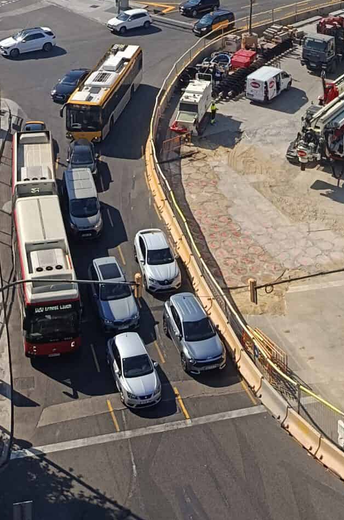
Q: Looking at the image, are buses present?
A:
Yes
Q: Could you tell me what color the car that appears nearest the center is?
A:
white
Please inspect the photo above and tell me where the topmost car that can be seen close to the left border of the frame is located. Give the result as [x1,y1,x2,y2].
[1,28,55,57]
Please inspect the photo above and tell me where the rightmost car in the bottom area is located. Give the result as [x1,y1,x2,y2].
[162,293,227,379]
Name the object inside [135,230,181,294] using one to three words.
car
